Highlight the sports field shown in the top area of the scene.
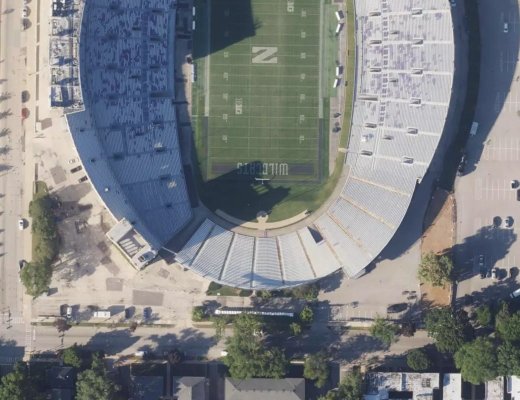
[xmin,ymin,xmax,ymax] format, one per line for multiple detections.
[192,0,338,223]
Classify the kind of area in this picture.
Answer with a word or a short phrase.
sports ground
